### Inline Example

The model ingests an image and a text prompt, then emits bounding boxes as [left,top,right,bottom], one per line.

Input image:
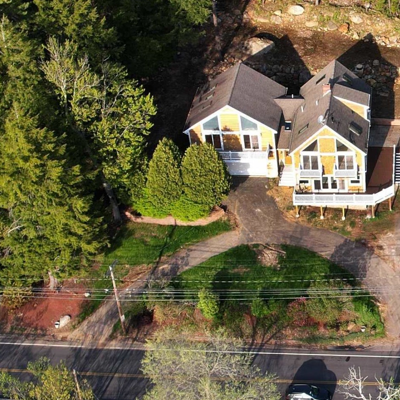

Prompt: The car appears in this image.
[284,380,332,400]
